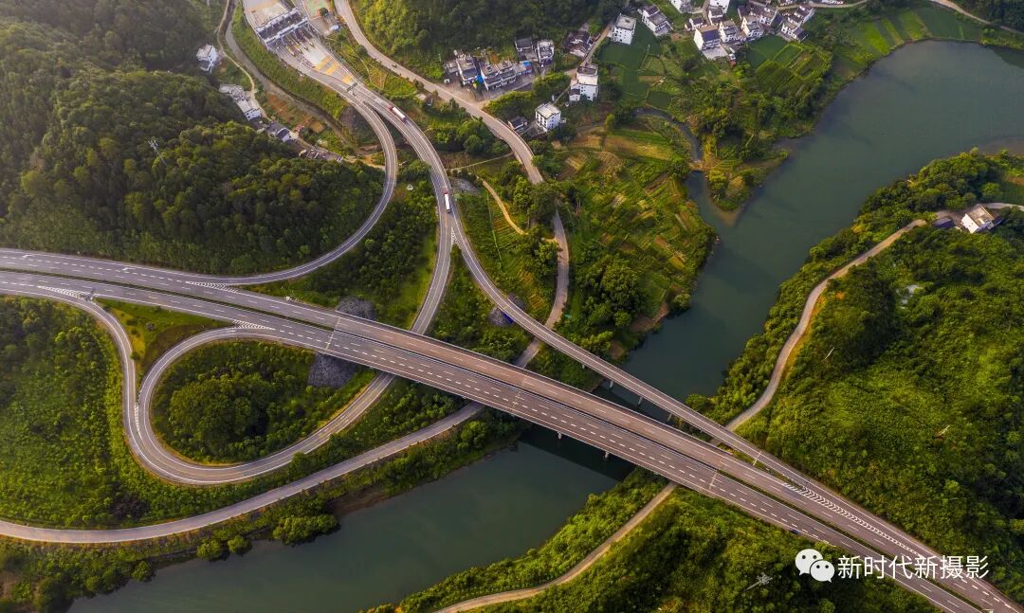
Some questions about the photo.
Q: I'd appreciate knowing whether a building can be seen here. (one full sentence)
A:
Yes, I can see a building in this picture.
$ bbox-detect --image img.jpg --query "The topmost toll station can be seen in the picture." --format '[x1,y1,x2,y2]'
[256,8,314,54]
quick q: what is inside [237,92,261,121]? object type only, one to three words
house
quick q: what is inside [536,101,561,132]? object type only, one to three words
house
